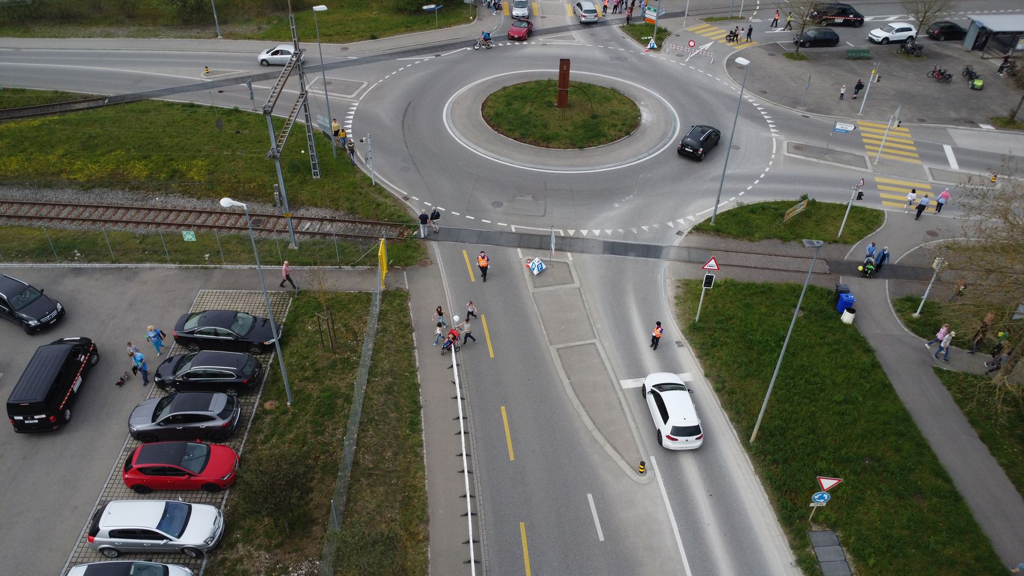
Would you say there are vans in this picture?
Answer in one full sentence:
Yes, there's a van down there.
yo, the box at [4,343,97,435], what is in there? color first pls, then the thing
black van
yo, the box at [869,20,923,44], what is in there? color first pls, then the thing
white car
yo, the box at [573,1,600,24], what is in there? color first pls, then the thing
gray car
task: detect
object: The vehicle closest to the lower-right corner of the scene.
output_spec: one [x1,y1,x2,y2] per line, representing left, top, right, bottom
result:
[642,372,706,455]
